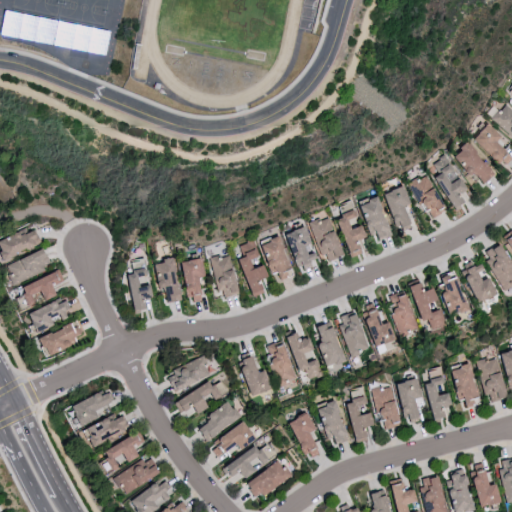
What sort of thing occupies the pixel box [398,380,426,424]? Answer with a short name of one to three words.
house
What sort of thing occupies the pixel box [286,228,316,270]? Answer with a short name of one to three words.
house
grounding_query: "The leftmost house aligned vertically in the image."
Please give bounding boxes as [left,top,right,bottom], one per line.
[128,260,152,314]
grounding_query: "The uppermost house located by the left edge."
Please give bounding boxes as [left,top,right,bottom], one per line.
[0,228,40,263]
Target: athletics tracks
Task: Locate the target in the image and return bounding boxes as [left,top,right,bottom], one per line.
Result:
[144,0,302,108]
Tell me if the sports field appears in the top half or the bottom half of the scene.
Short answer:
top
